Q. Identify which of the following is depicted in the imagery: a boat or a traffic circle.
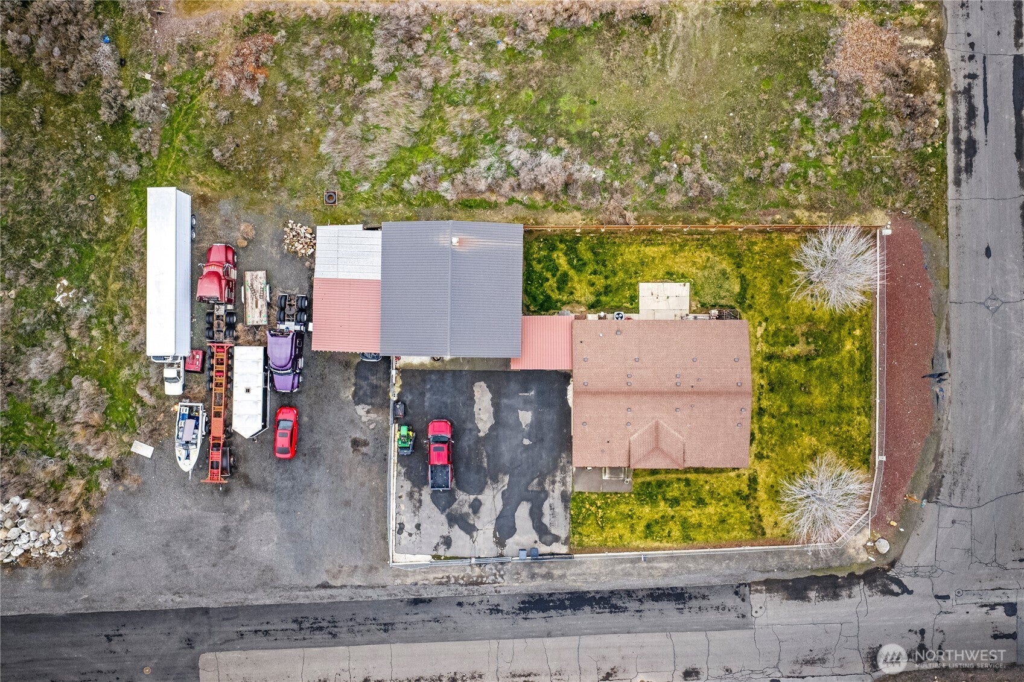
boat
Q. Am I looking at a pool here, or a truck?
truck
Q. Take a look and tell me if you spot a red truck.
Yes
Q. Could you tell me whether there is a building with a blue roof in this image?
No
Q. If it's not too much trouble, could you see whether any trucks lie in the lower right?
No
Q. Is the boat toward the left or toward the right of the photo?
left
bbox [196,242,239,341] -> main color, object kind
red truck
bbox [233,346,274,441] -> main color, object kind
white trailer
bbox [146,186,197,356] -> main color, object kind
white trailer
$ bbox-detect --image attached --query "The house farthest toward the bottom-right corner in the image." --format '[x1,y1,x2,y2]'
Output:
[571,319,753,470]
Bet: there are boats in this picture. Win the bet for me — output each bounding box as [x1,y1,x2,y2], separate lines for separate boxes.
[175,396,203,472]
